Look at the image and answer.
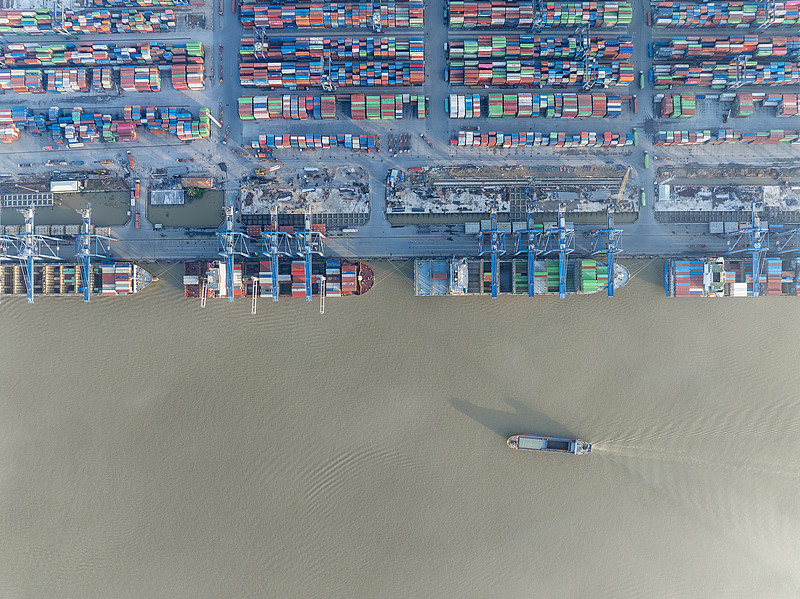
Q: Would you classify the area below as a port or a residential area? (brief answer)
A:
port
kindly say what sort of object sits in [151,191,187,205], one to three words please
shed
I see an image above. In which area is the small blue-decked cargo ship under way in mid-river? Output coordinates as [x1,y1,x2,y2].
[507,435,593,457]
